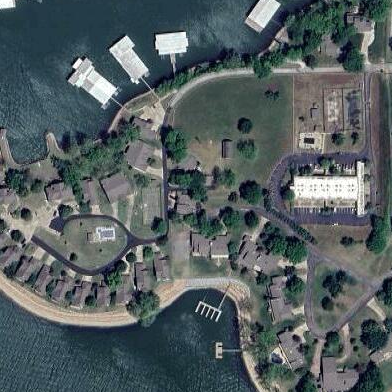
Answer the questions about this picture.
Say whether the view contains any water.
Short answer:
Yes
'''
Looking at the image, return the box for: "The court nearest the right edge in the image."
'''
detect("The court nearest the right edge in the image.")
[343,89,362,129]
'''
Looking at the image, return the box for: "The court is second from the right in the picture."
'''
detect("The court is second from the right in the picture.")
[324,89,342,130]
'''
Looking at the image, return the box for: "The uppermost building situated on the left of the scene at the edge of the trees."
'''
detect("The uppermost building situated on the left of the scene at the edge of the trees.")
[130,114,160,142]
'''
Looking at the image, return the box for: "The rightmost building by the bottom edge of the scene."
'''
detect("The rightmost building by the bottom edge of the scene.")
[323,358,359,392]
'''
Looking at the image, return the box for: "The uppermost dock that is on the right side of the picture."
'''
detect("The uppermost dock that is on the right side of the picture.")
[246,0,281,31]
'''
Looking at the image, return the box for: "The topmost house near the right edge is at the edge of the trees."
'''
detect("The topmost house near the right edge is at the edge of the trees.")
[346,13,374,33]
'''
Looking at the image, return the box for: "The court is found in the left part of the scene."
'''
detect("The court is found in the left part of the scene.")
[143,189,161,225]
